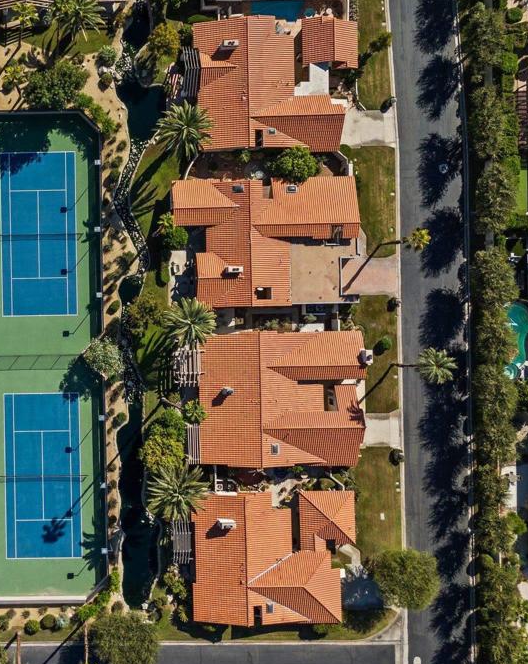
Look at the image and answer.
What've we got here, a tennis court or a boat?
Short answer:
tennis court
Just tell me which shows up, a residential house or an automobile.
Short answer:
residential house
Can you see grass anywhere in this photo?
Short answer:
Yes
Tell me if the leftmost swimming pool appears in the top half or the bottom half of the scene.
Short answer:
top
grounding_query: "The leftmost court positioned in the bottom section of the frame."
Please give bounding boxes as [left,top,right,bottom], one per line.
[0,393,87,559]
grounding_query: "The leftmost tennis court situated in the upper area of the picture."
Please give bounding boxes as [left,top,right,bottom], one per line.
[0,151,83,317]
